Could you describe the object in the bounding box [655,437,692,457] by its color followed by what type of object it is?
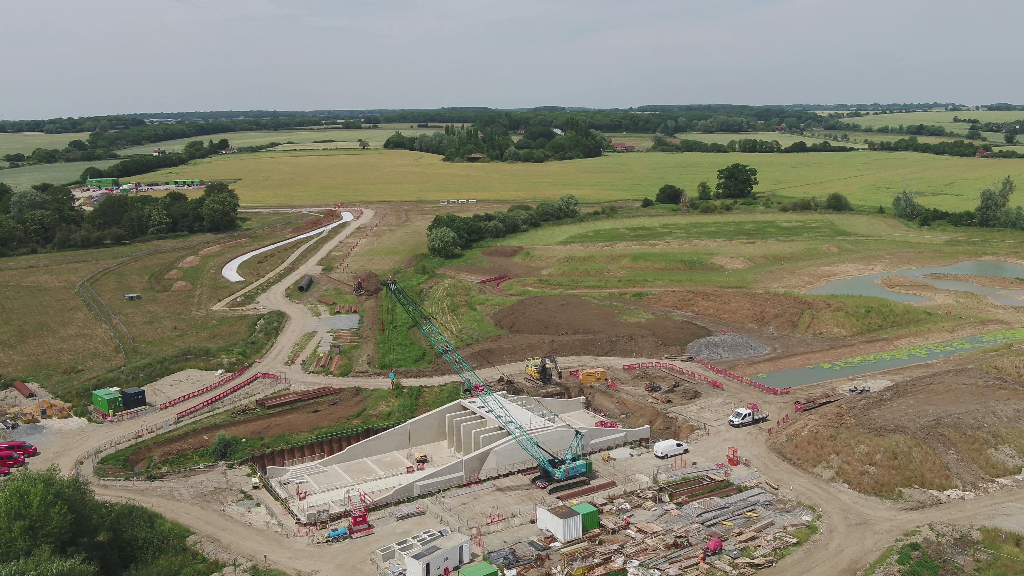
white vehicle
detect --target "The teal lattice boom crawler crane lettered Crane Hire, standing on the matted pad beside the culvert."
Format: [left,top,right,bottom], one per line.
[376,270,599,492]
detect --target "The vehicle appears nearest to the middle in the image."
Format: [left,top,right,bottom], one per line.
[526,354,575,386]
